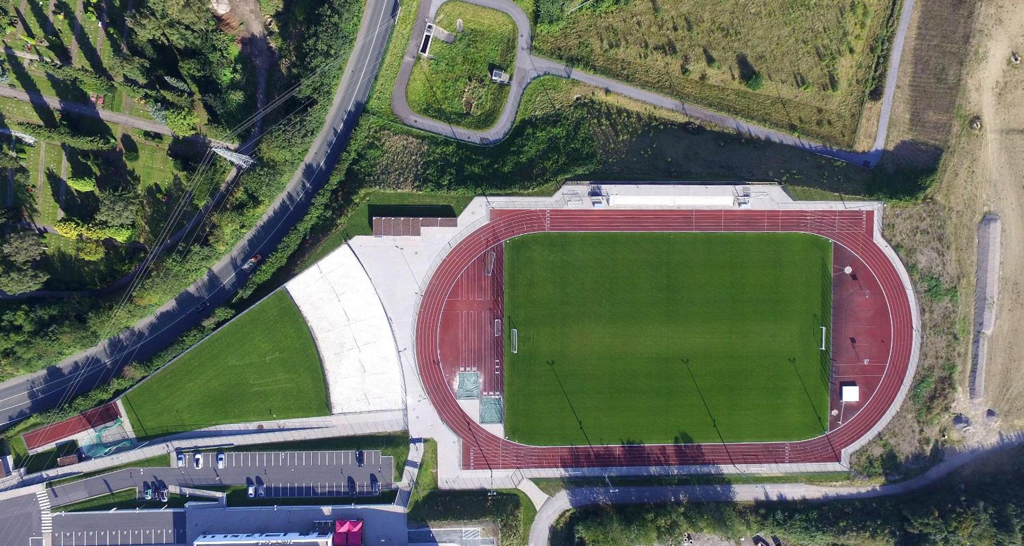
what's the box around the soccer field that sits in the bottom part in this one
[504,232,834,446]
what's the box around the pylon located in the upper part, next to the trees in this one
[208,145,253,169]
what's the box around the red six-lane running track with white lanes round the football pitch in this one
[415,209,916,471]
